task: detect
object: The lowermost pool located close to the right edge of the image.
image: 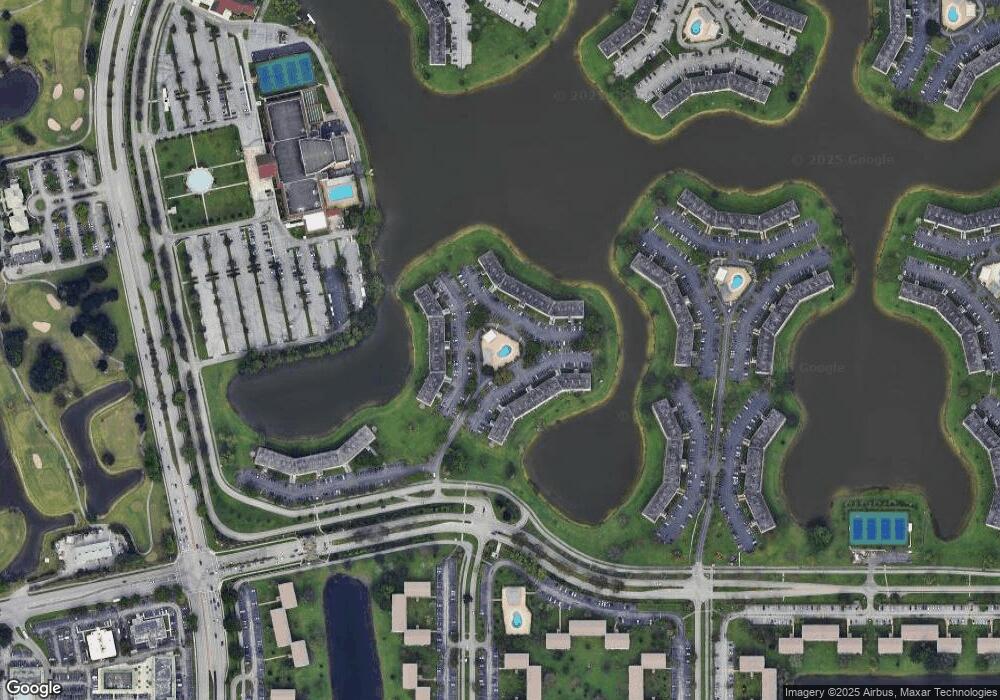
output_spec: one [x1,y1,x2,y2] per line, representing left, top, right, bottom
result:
[979,264,1000,301]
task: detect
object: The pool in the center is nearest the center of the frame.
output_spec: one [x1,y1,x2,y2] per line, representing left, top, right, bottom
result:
[482,329,520,370]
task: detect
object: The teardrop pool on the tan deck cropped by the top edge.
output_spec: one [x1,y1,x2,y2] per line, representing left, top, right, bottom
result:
[941,0,978,30]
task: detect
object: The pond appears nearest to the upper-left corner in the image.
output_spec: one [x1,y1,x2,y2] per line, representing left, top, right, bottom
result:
[0,68,39,121]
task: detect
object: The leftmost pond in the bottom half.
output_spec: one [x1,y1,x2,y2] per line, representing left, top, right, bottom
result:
[0,415,77,583]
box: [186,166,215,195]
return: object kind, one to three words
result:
fountain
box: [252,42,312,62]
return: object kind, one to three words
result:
building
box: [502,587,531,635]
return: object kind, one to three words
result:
swimming pool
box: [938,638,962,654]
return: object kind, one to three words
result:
building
